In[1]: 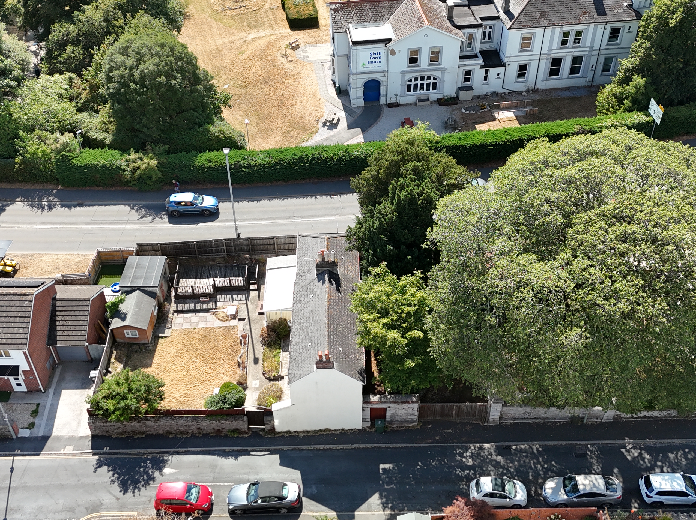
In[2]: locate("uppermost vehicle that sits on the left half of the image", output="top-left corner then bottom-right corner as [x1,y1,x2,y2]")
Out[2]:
[166,189,221,216]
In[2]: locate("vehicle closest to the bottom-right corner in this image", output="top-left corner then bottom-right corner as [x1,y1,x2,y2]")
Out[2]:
[637,471,696,507]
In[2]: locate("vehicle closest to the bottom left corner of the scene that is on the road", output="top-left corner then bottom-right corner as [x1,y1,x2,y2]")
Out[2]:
[153,478,215,514]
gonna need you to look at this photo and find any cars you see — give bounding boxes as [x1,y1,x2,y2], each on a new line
[153,478,215,514]
[166,189,221,216]
[637,471,696,507]
[468,473,528,506]
[540,470,623,507]
[227,476,304,512]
